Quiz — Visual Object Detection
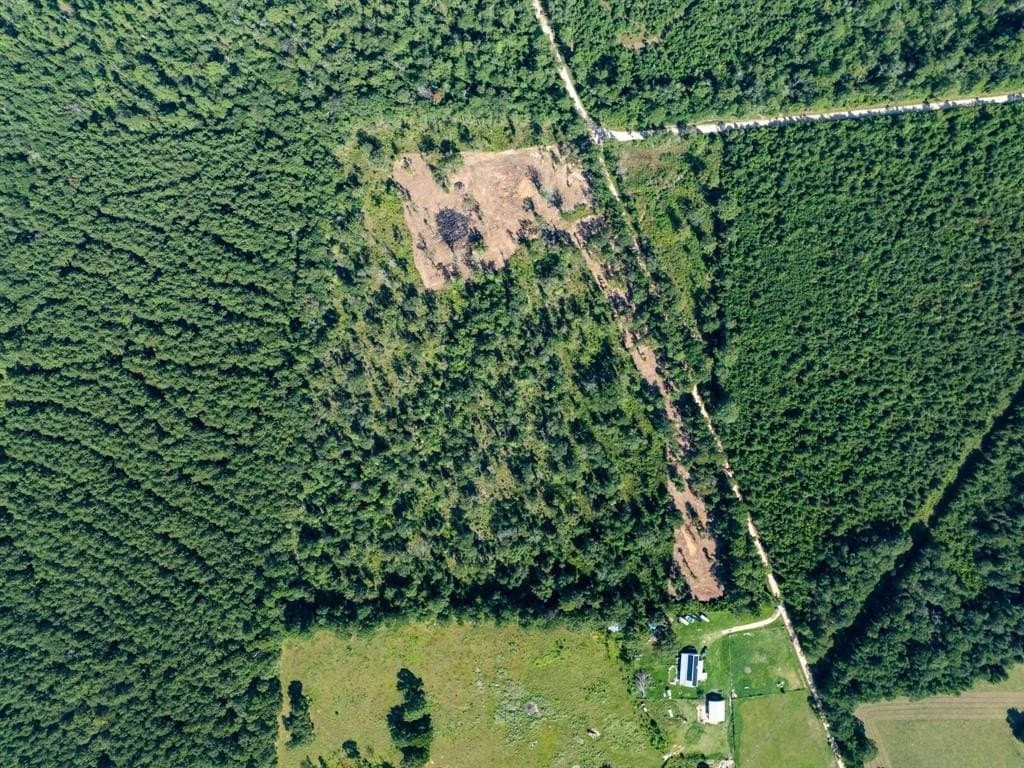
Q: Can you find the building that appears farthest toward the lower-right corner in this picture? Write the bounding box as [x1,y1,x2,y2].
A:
[708,698,725,722]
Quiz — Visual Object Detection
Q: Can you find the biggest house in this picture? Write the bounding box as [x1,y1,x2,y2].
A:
[679,651,698,686]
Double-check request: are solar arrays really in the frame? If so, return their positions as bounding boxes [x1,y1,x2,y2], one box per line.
[693,655,698,684]
[688,655,694,679]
